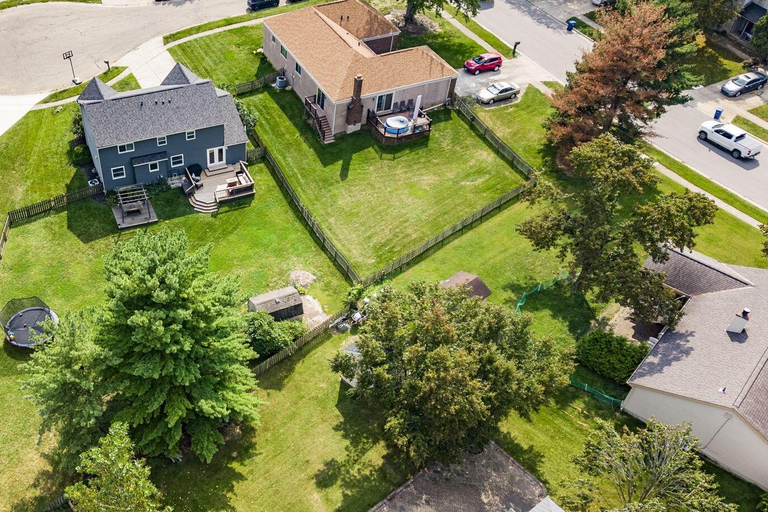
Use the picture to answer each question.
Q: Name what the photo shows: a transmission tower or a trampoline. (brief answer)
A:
trampoline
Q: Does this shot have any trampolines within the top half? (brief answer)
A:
No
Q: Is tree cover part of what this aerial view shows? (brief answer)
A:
Yes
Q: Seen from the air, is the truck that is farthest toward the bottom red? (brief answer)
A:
No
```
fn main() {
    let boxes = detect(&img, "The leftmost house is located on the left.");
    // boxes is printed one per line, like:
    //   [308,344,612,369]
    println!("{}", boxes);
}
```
[74,62,249,193]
